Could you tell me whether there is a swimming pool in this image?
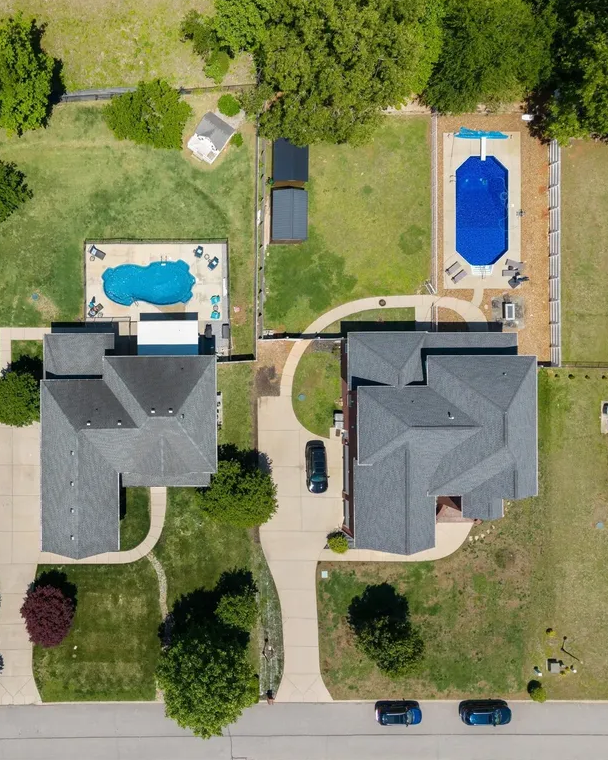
Yes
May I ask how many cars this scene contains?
three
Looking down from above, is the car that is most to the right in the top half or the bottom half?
bottom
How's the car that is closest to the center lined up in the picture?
from top to bottom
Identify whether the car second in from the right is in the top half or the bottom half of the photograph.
bottom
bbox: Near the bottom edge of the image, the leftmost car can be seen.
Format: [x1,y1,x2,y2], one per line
[376,702,421,727]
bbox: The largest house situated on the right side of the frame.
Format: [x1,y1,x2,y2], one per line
[340,331,538,555]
